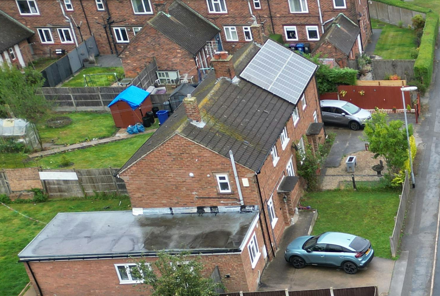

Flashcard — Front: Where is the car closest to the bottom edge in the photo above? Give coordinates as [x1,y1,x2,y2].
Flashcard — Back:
[284,226,378,272]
